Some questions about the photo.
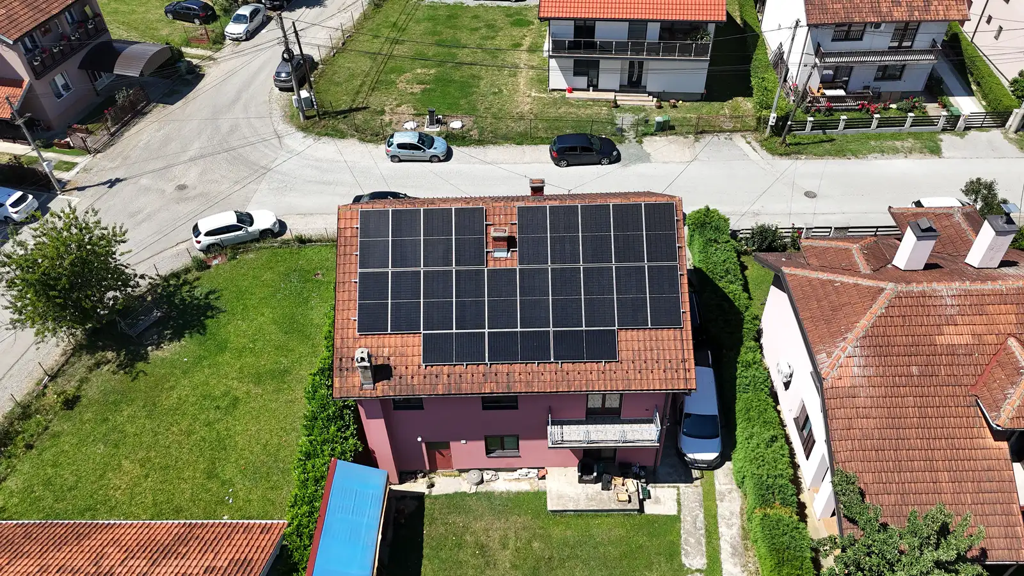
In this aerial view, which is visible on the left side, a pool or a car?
car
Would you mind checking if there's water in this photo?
No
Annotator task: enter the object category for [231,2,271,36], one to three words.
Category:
car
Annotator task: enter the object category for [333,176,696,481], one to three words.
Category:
house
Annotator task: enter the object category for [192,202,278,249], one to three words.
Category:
car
